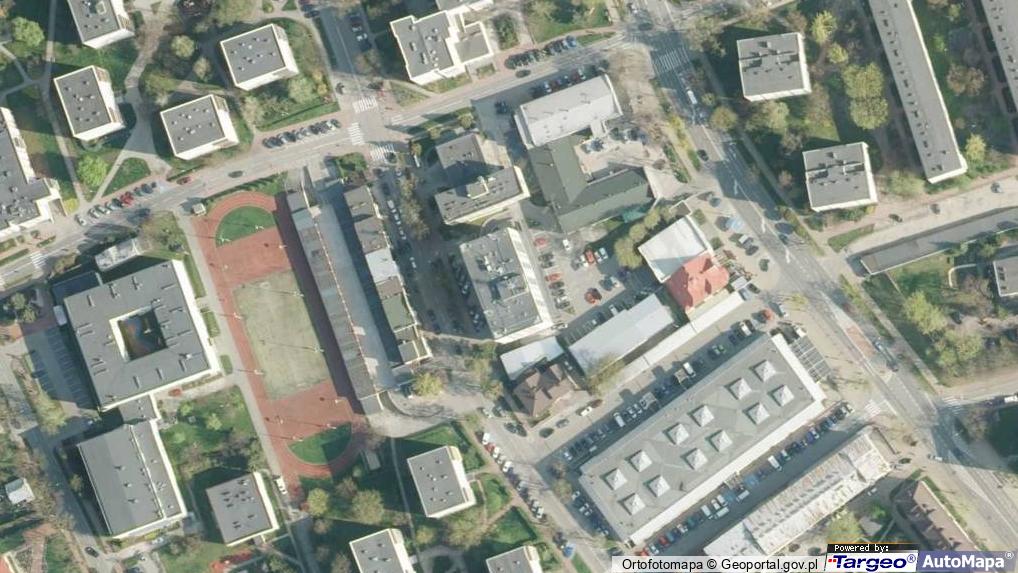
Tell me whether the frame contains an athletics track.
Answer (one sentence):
Yes, an athletics track can be made out from above.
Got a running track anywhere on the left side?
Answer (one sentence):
Yes, there is a running track on the left side.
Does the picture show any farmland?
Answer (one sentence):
No, the picture contains no farmland.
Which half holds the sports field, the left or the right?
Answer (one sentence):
The sports field sits on the left side.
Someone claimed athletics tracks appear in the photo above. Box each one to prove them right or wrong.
[194,190,383,480]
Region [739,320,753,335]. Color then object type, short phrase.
white vehicle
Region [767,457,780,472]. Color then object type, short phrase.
white vehicle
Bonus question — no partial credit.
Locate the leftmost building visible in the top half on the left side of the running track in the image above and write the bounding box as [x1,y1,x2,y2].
[0,106,63,239]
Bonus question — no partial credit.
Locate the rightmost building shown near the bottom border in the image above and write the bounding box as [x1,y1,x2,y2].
[898,481,998,573]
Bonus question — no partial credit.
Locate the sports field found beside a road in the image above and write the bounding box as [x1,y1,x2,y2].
[194,190,383,480]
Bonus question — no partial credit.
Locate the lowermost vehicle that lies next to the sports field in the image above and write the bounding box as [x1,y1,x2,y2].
[274,475,288,495]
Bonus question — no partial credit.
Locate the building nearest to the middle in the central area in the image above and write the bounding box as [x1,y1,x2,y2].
[459,229,551,341]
